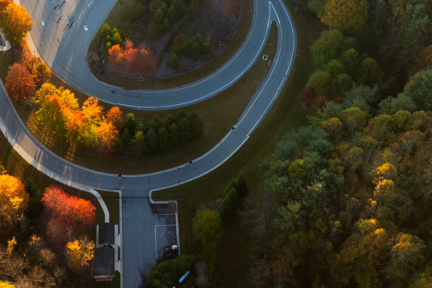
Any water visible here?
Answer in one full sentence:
No, water can't be seen anywhere here.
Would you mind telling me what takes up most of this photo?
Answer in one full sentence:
The bulk of the photo consists of trees.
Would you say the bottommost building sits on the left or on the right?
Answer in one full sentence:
The bottommost building appears in the left half of the scene.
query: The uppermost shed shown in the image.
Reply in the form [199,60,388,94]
[98,223,116,250]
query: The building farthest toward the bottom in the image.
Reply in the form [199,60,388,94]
[91,247,115,285]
